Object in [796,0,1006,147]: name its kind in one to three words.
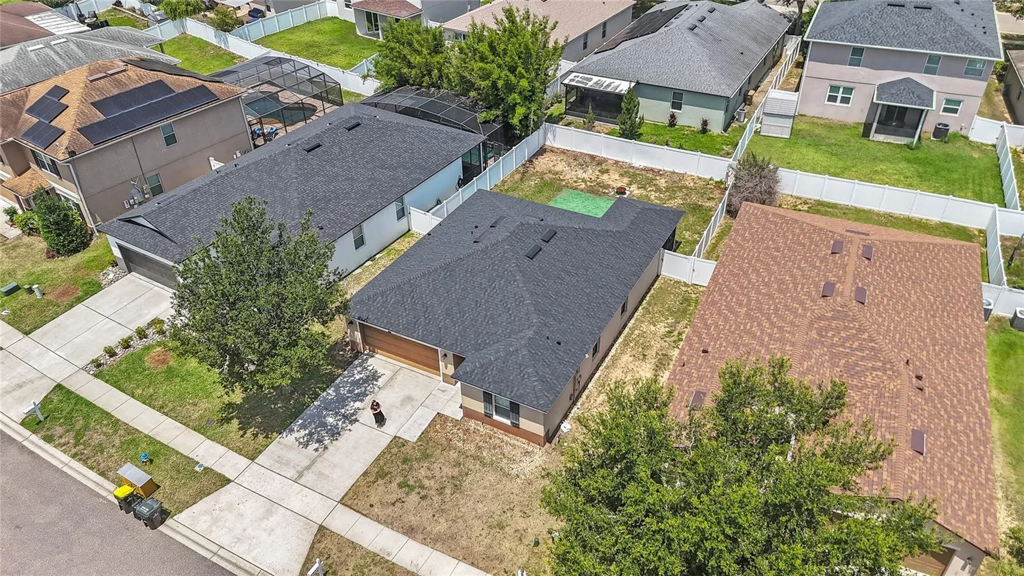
house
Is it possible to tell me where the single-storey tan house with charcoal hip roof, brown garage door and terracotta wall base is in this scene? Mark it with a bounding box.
[334,189,685,447]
